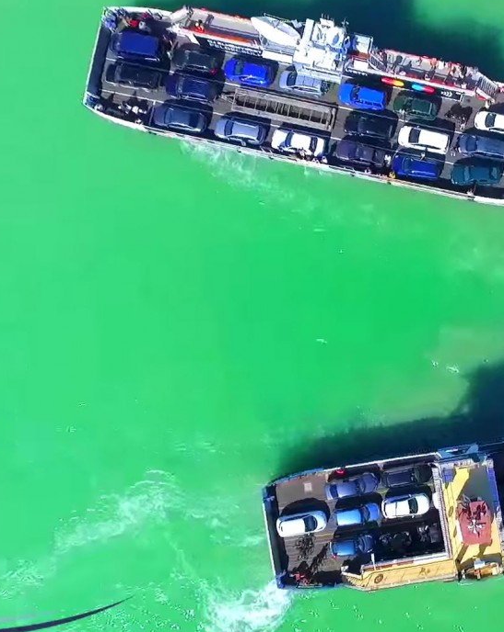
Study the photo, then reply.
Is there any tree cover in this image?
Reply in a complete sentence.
No, tree cover can't be seen anywhere here.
